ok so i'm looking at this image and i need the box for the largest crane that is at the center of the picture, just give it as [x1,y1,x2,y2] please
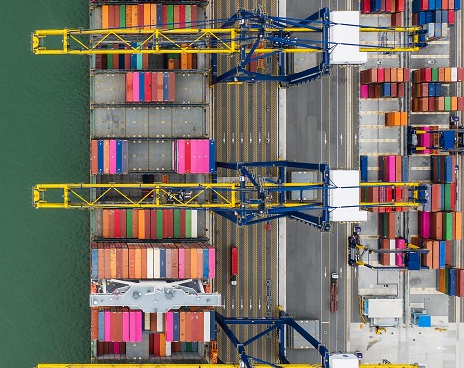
[29,158,433,227]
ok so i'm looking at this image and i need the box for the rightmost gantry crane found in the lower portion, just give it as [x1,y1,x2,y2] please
[352,237,432,272]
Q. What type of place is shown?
port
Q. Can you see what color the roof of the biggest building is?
white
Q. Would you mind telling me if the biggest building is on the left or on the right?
right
